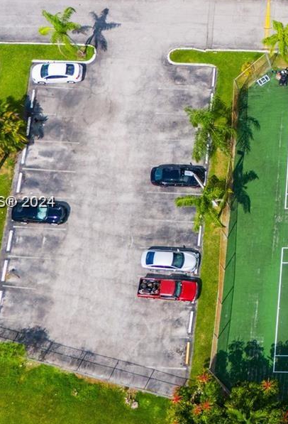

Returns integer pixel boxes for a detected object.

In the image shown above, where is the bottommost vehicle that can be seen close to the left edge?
[10,201,69,225]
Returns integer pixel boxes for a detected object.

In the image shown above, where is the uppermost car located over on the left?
[30,61,84,84]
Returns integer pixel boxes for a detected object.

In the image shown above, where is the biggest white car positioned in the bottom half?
[140,249,199,274]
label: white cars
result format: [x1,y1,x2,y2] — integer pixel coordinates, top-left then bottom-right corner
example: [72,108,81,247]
[30,61,84,84]
[140,249,199,274]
